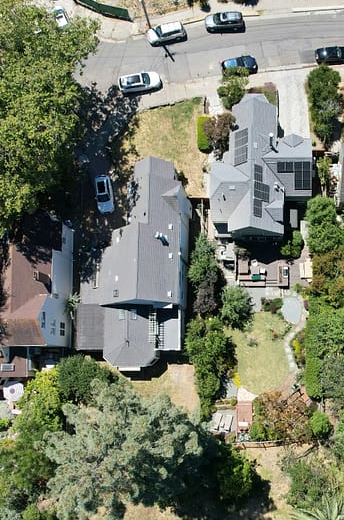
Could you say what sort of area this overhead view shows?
residential area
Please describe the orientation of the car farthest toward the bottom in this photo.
vertically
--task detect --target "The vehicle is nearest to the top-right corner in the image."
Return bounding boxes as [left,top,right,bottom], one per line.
[313,46,344,65]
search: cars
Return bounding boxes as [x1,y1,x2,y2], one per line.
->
[313,46,344,65]
[146,22,188,46]
[95,175,115,214]
[50,7,72,32]
[222,56,258,73]
[118,71,160,94]
[205,12,246,34]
